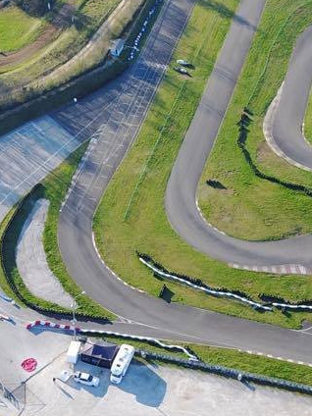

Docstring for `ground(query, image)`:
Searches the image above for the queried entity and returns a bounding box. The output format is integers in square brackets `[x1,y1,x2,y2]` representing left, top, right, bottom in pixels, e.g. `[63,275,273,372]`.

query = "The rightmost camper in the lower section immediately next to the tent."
[107,346,136,394]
